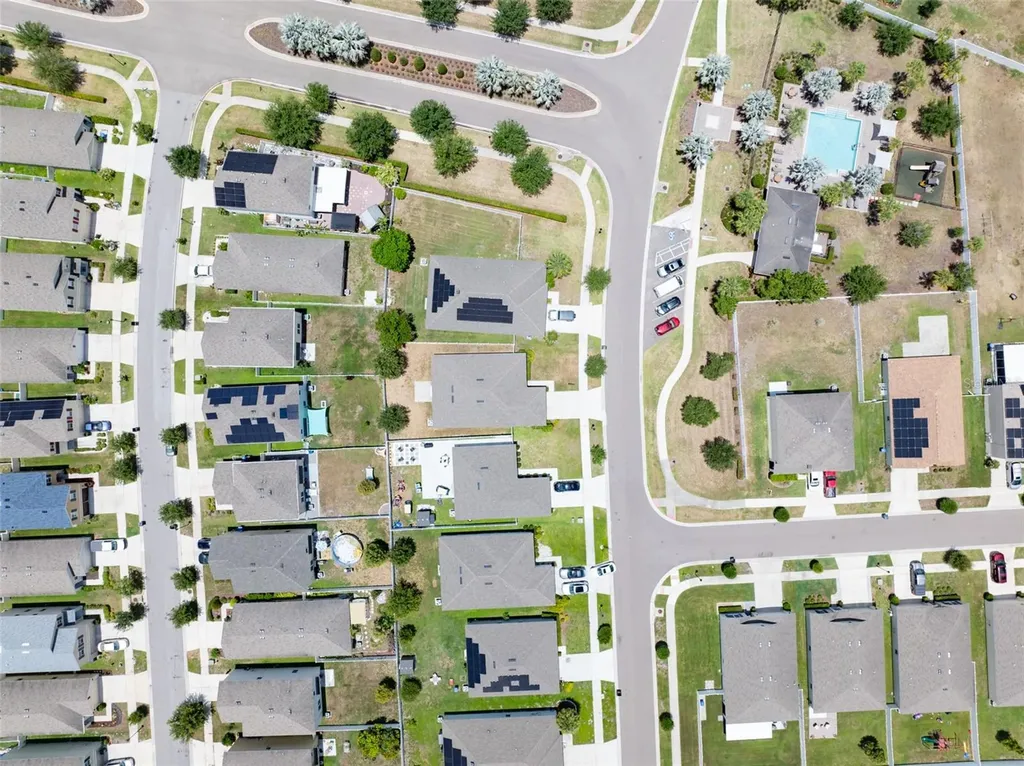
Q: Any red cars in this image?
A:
Yes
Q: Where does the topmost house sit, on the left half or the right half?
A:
left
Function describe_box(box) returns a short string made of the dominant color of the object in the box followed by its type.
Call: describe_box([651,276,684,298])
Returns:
white vehicle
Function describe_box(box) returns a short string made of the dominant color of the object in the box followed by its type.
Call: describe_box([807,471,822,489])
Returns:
white car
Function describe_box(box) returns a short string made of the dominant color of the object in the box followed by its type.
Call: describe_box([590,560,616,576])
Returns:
white car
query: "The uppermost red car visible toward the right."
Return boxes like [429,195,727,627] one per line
[653,317,681,336]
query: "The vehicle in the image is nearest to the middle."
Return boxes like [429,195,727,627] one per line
[549,308,575,322]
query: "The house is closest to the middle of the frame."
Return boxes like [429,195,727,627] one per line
[432,353,548,428]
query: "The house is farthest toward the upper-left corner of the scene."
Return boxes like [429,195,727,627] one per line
[0,106,100,174]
